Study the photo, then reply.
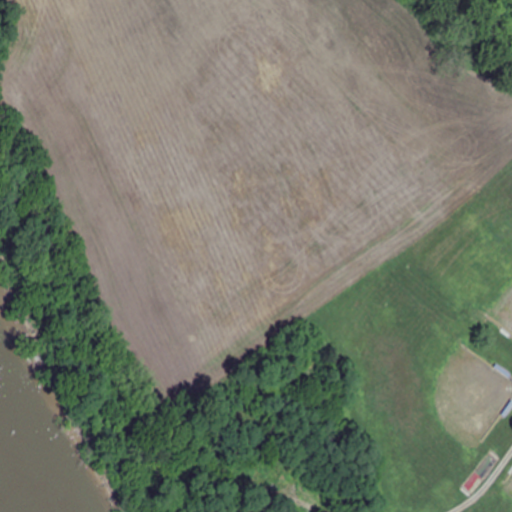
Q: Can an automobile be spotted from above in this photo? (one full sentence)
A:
No, this view has no automobile in it.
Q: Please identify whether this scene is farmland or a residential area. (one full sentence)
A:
What you see here is farmland.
